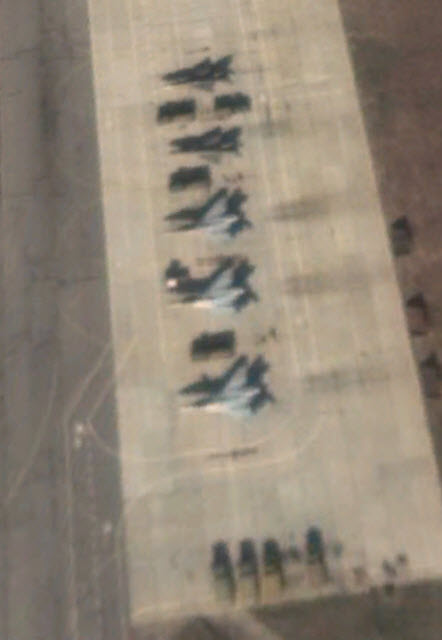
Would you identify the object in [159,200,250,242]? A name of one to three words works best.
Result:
airplane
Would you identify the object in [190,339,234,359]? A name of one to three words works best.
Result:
vehicle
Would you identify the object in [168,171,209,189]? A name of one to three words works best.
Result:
vehicle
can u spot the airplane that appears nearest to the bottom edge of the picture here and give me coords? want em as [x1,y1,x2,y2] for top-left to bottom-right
[178,369,276,419]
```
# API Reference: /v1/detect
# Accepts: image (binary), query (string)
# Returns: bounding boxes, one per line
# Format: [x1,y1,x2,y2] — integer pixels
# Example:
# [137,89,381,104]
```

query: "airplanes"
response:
[160,61,231,88]
[168,130,240,159]
[159,200,250,242]
[167,270,260,315]
[178,369,276,419]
